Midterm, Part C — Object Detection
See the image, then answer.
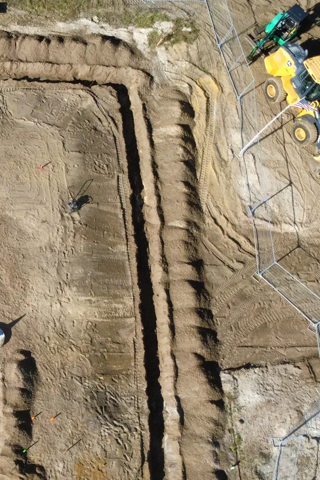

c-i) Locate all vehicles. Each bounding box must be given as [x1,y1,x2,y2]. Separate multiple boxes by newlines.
[255,43,320,178]
[244,3,314,60]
